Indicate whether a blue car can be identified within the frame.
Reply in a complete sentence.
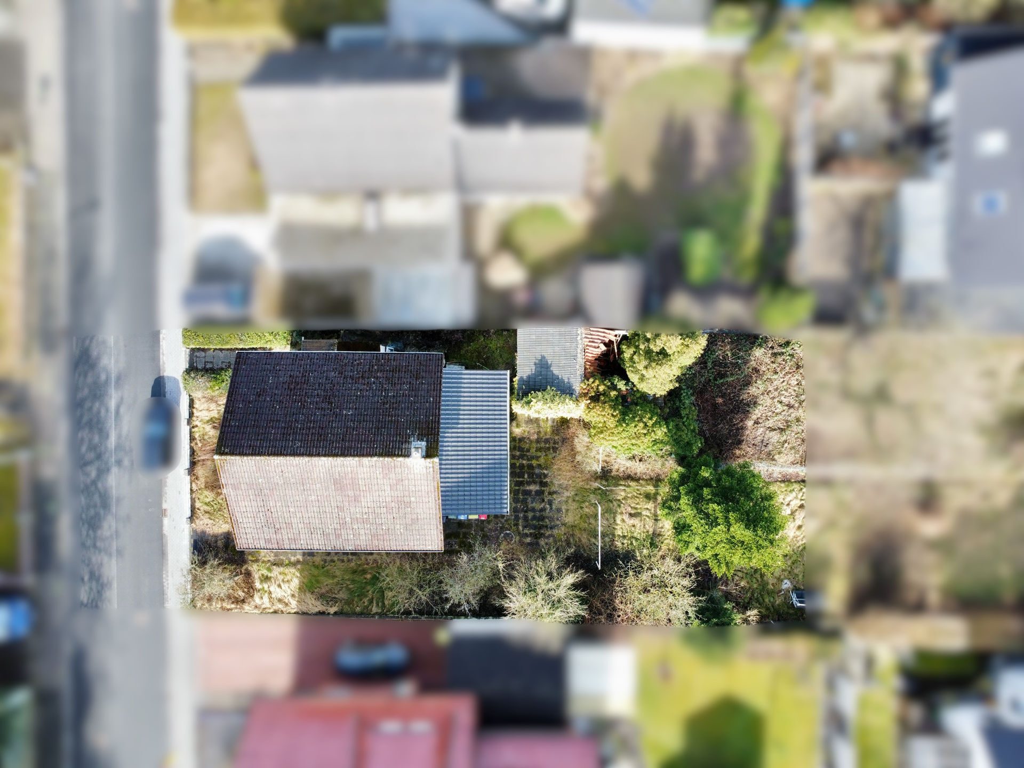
Yes, the image includes a blue car.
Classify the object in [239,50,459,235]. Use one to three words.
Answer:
house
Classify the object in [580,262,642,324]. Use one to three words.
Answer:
shed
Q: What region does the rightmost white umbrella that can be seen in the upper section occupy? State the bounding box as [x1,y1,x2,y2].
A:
[489,252,527,290]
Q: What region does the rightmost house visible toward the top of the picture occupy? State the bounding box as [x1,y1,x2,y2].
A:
[910,32,1024,294]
